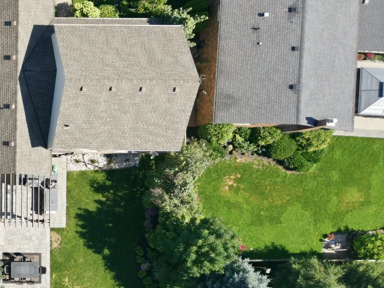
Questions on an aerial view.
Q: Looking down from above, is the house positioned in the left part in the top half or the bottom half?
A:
top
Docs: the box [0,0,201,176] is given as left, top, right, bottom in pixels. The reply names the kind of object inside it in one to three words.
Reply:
house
